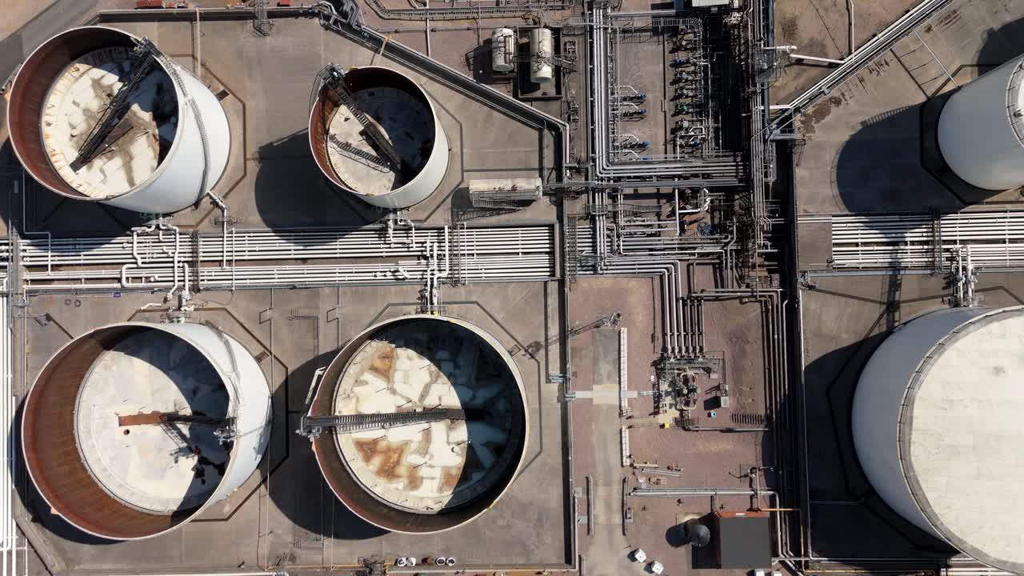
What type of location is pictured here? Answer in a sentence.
This image shows an industrial area.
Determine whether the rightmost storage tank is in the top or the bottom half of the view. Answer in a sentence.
You can find the rightmost storage tank in the top half.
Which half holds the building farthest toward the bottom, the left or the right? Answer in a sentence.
You can find the building farthest toward the bottom on the right side of the picture.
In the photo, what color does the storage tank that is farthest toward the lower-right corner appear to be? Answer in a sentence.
From above, the storage tank that is farthest toward the lower-right corner appears white.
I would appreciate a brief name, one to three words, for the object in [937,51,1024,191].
storage tank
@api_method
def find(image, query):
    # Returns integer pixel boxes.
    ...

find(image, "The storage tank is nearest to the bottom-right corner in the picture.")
[849,305,1024,576]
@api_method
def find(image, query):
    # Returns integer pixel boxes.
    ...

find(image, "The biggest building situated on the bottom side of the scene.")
[714,507,771,569]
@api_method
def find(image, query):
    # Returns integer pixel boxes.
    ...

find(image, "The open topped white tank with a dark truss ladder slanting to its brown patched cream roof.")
[6,26,233,214]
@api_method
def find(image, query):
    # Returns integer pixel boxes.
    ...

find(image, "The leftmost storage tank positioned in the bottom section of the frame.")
[21,319,273,540]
